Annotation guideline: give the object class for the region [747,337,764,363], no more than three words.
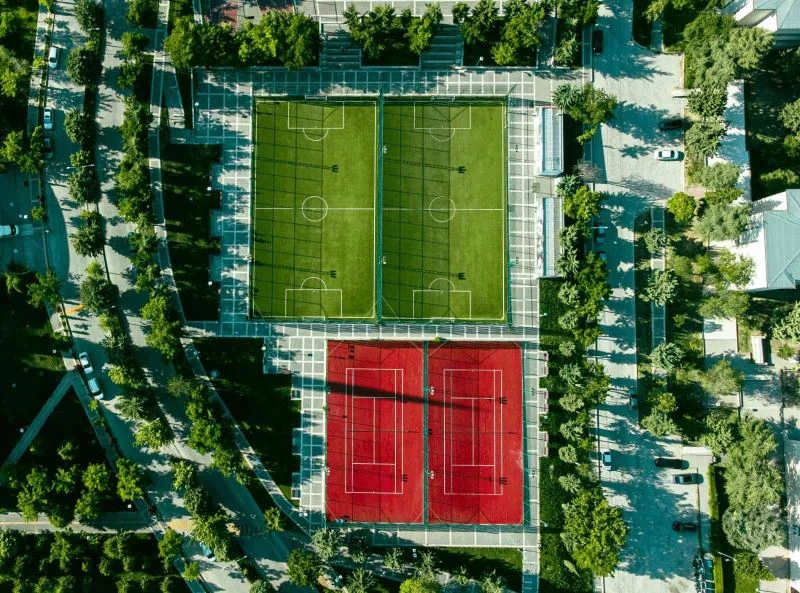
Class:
shed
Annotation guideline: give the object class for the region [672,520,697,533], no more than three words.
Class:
vehicle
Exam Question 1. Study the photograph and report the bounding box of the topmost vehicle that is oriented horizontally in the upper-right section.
[657,117,681,130]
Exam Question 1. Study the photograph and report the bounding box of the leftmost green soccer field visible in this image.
[250,95,376,321]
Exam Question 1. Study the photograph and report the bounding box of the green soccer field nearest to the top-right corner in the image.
[380,96,511,322]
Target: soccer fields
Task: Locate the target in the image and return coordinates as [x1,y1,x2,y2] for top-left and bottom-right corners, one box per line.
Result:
[380,96,511,322]
[250,95,376,321]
